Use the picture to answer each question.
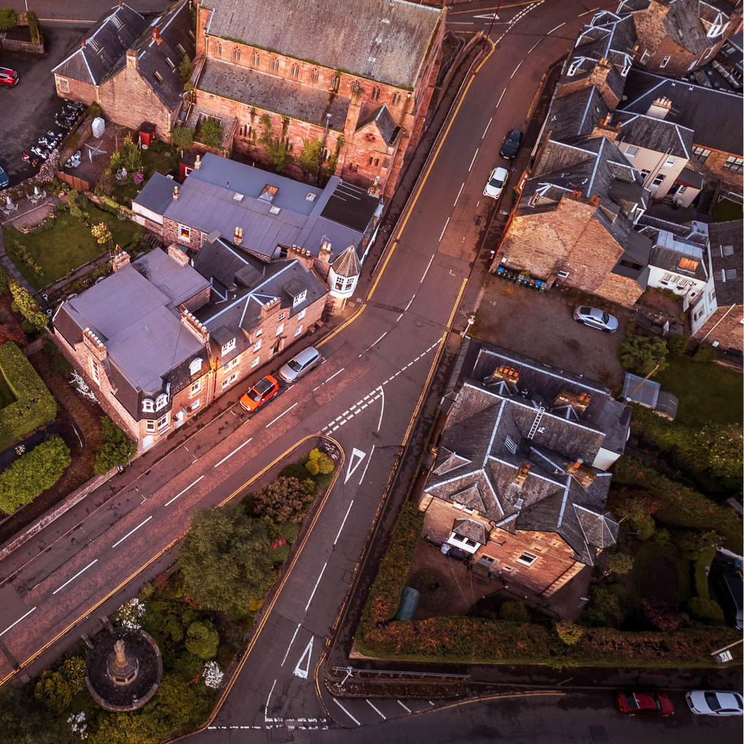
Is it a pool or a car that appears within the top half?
car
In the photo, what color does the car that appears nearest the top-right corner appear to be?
black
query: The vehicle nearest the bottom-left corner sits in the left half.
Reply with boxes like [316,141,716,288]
[233,372,284,414]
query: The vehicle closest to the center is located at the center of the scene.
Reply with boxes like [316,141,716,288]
[274,343,328,388]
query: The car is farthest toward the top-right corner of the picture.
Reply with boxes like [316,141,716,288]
[498,127,522,163]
